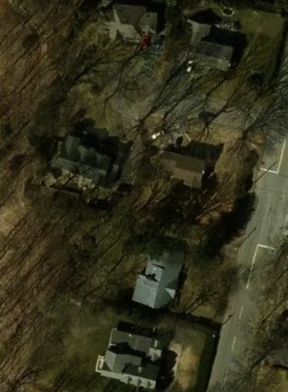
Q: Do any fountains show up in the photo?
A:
No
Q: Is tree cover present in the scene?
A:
Yes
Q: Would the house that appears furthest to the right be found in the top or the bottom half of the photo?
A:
top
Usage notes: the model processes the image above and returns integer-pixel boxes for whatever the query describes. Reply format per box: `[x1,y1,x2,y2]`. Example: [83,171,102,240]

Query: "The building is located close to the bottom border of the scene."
[96,330,164,390]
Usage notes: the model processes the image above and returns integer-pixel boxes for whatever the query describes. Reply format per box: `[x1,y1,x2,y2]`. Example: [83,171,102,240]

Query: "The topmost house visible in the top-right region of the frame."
[188,16,236,62]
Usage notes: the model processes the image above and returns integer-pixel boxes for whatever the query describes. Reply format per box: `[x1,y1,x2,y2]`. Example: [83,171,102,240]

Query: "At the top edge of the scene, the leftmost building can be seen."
[105,2,159,39]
